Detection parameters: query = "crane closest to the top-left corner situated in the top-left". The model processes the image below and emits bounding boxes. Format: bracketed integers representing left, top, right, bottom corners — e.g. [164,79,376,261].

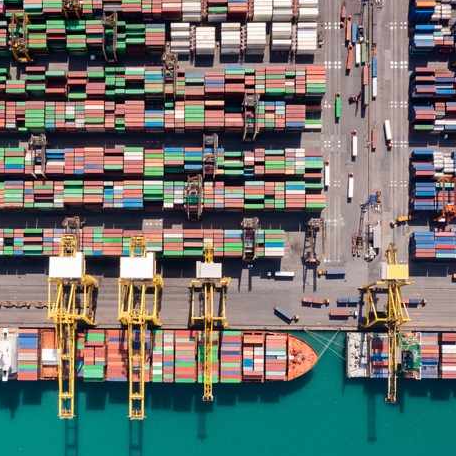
[12,10,35,62]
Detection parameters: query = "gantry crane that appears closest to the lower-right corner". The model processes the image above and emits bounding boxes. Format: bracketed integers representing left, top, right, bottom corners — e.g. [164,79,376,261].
[353,245,411,402]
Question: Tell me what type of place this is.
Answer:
port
